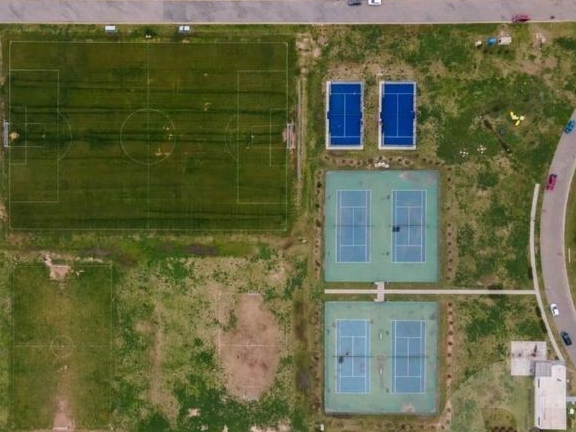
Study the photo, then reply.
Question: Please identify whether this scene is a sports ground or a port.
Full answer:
The picture captures a sports ground.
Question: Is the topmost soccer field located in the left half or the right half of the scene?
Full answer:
It is on the left.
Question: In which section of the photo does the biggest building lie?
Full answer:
You can find the biggest building in the bottom right area of the picture.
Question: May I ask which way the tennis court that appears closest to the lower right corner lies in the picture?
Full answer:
What the image shows is the tennis court that appears closest to the lower right corner lying from top to bottom.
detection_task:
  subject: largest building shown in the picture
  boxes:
[531,359,566,430]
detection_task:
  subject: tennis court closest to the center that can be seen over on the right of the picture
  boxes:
[334,189,375,263]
